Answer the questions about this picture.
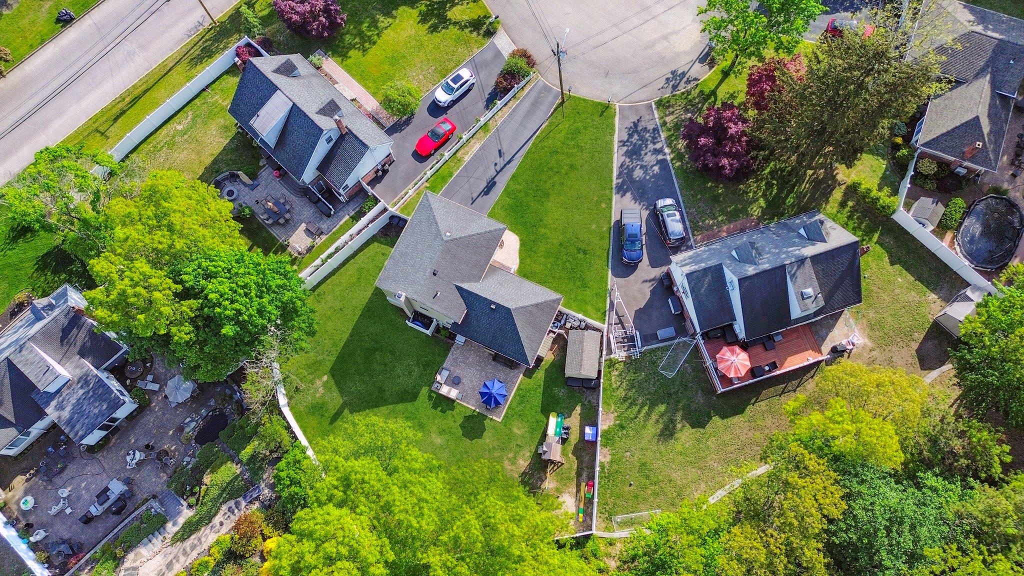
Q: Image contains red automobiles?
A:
Yes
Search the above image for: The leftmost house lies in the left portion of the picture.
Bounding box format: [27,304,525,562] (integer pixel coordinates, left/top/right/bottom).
[0,284,141,455]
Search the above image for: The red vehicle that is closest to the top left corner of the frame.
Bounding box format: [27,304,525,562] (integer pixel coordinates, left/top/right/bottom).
[415,116,460,156]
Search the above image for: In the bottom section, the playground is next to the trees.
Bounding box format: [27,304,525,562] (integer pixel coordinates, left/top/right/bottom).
[575,387,600,533]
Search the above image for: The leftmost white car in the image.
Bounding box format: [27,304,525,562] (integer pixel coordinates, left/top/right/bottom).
[432,64,478,109]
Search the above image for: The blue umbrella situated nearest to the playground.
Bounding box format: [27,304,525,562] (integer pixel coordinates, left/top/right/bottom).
[476,377,510,411]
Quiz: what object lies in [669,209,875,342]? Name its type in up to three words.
house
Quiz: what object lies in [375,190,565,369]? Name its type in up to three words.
house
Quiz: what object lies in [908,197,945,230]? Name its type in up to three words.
shed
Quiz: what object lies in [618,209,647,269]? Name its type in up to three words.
truck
